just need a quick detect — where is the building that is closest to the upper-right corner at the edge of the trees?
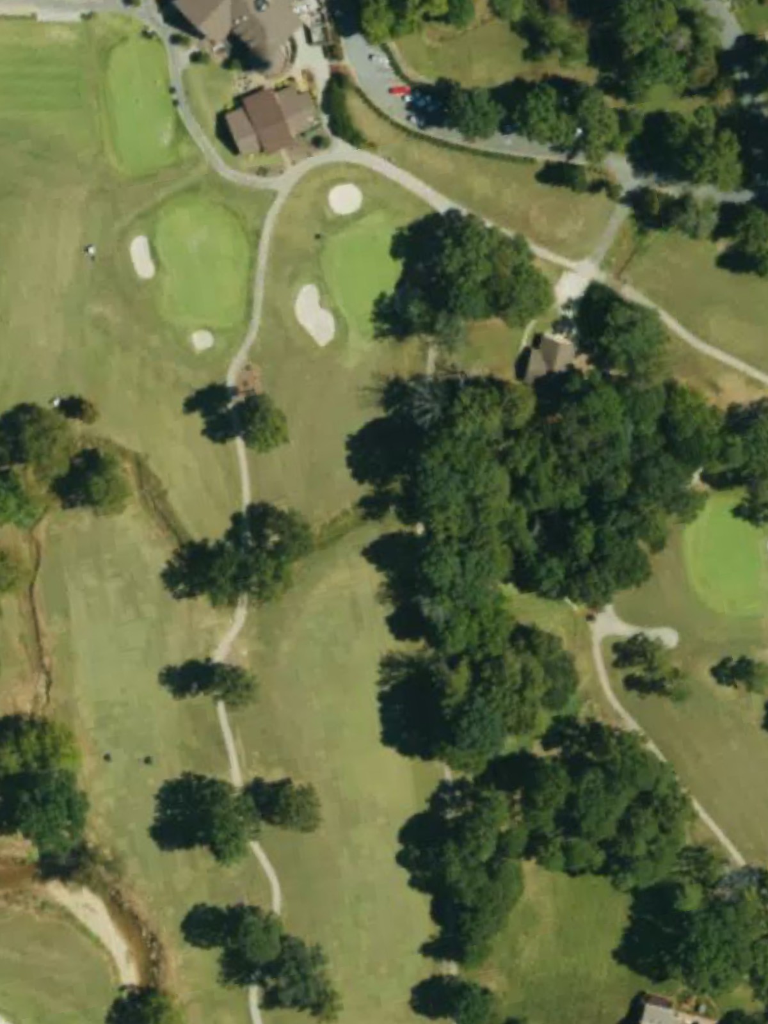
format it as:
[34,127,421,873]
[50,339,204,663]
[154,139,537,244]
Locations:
[526,337,575,388]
